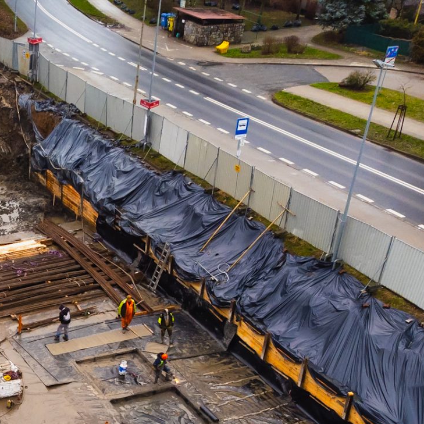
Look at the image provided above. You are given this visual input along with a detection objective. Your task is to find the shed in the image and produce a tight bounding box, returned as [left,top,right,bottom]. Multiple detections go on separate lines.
[159,0,255,46]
